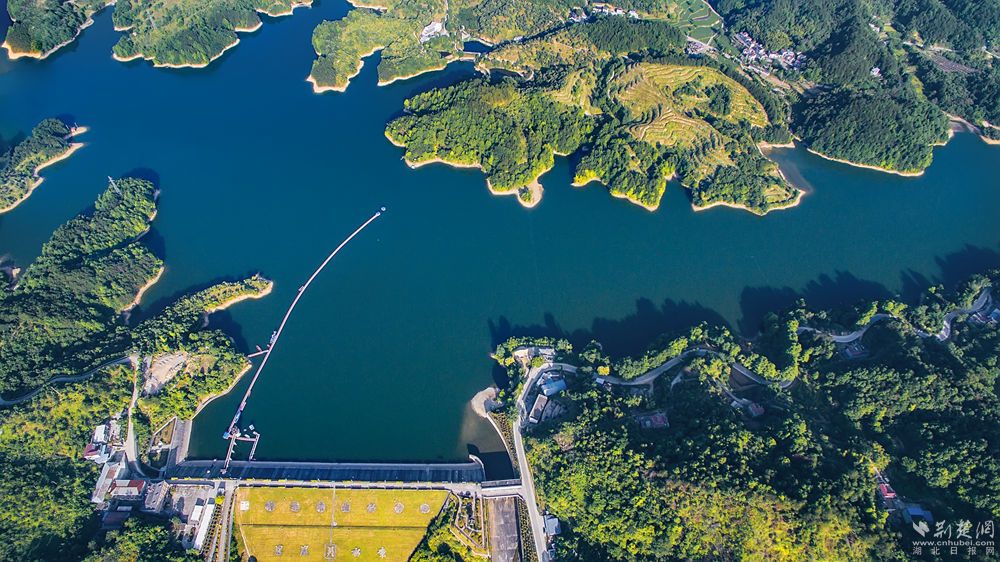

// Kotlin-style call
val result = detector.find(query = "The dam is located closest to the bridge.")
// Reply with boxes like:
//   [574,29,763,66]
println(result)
[169,460,484,562]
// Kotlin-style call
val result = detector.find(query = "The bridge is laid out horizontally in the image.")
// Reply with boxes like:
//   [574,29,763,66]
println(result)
[481,479,524,498]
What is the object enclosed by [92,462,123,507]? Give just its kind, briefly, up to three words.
building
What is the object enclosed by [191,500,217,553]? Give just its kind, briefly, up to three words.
shed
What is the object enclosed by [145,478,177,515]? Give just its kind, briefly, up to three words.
building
